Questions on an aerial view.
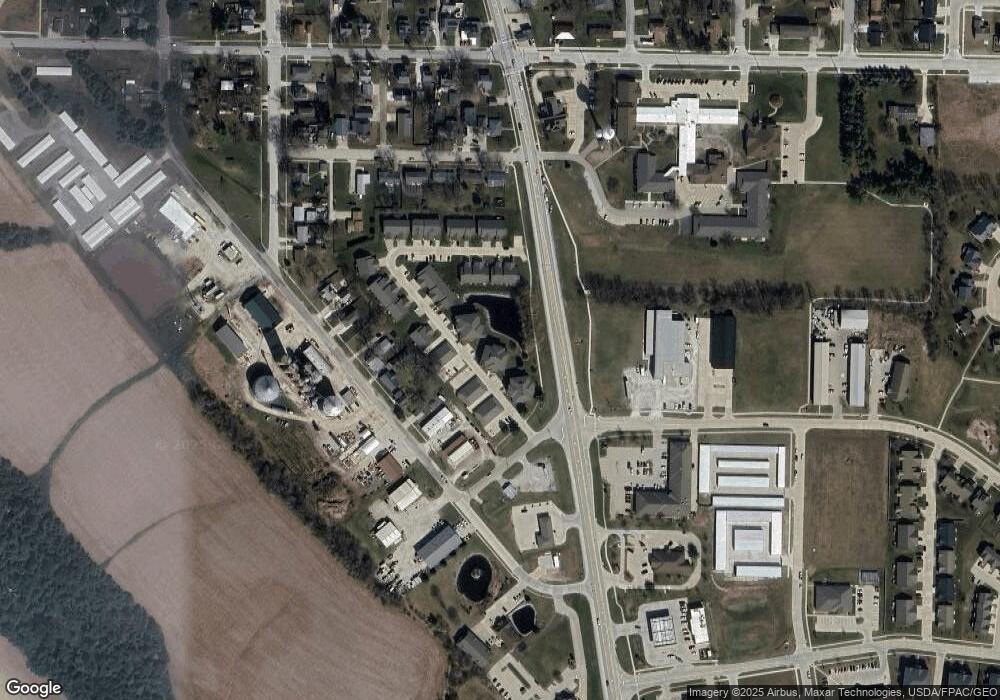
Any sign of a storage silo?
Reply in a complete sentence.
Yes, the photo shows a storage silo.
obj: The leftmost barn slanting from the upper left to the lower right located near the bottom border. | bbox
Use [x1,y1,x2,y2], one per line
[453,625,495,666]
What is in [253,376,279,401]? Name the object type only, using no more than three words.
silo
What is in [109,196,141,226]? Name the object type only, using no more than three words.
building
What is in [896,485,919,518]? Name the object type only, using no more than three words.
house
